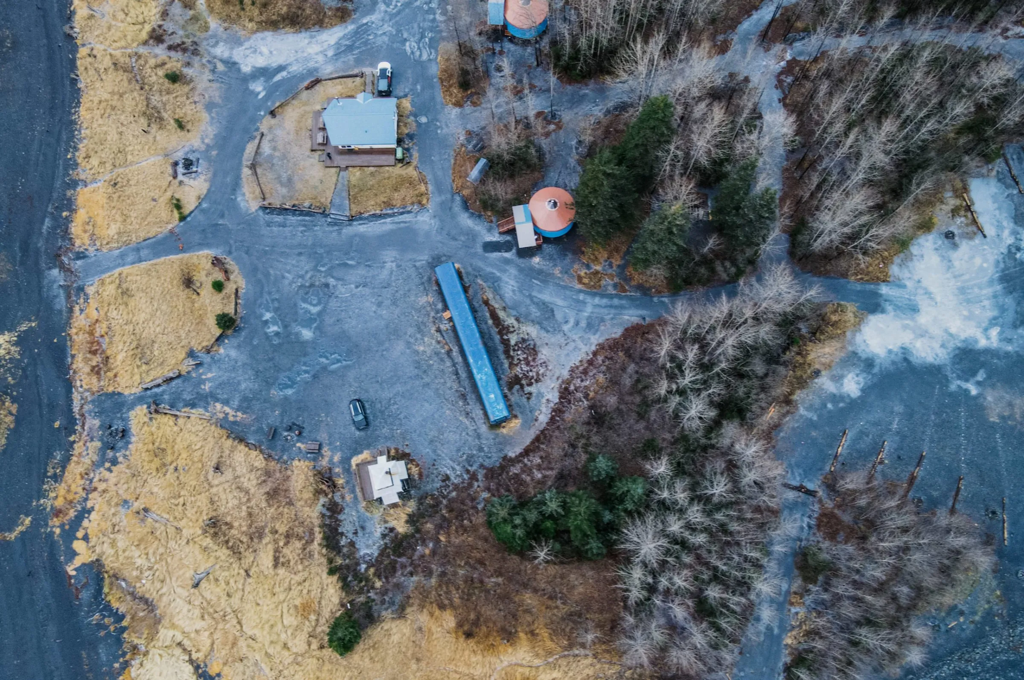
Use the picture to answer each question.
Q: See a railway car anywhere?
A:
Yes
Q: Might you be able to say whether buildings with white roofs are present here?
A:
Yes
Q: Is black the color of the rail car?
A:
No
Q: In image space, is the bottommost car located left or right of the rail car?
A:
on the left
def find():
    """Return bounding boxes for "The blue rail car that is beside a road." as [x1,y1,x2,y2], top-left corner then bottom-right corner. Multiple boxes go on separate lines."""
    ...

[436,264,510,426]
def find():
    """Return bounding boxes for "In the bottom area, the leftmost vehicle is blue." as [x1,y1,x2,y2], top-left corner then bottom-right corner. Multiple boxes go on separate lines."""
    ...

[350,397,370,431]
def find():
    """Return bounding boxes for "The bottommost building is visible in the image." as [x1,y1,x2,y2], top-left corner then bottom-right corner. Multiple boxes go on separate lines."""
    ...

[368,455,409,505]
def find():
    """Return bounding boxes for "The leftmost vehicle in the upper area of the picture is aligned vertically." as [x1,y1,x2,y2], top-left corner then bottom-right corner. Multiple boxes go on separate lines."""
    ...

[376,63,391,95]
